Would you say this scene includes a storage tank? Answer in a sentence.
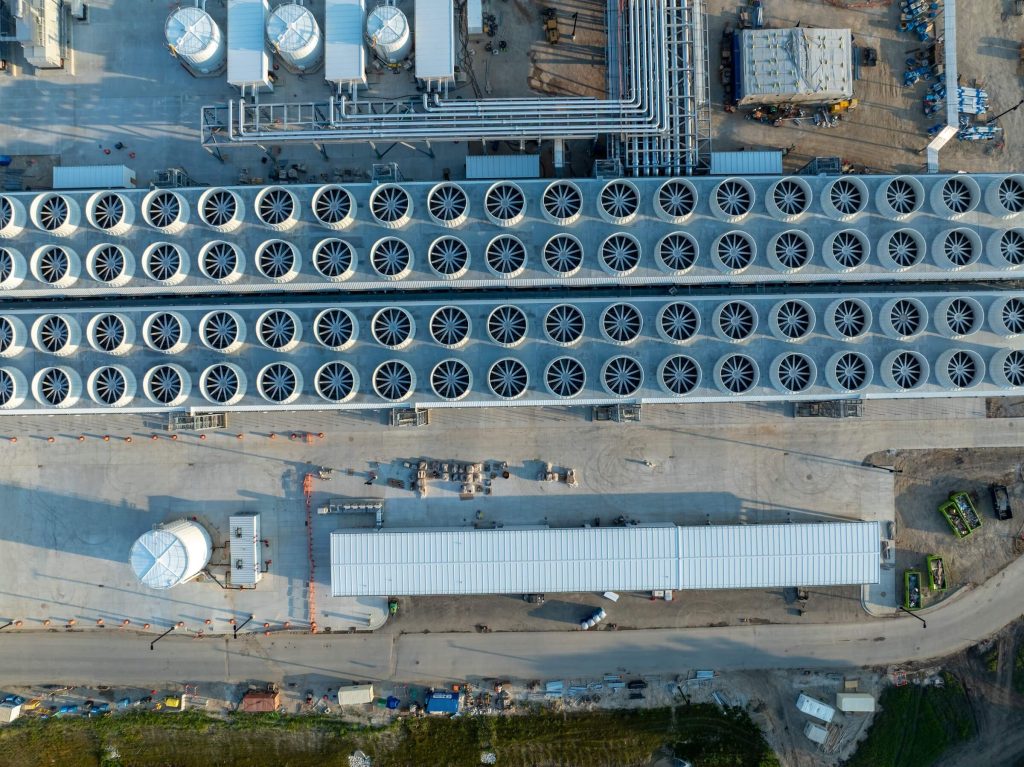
Yes, a storage tank can be made out from above.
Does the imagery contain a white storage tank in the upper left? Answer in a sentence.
Yes, the scene does show a white storage tank in the upper left.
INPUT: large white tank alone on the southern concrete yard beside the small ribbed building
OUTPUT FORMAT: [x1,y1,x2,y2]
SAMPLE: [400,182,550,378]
[128,517,215,590]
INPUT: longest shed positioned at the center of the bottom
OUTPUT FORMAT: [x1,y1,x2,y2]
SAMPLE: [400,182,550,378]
[330,519,881,597]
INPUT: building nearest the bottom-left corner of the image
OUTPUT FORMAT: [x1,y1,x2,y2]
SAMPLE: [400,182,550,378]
[230,513,263,585]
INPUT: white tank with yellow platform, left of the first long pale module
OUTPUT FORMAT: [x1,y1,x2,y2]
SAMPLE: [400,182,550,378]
[161,2,228,74]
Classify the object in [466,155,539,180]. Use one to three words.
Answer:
shed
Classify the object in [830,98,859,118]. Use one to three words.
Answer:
work vehicle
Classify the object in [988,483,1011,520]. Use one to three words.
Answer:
truck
